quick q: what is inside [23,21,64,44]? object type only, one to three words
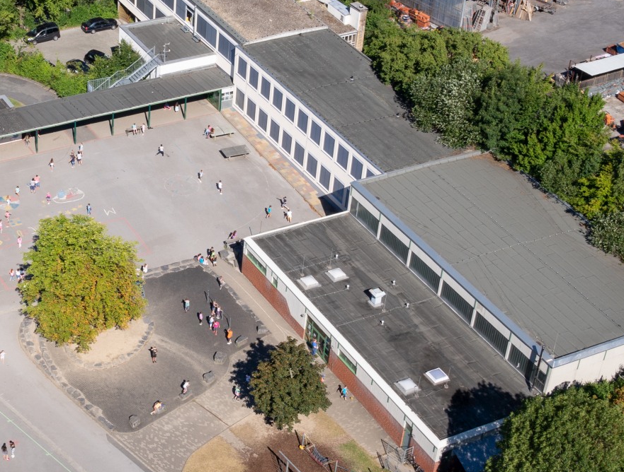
car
